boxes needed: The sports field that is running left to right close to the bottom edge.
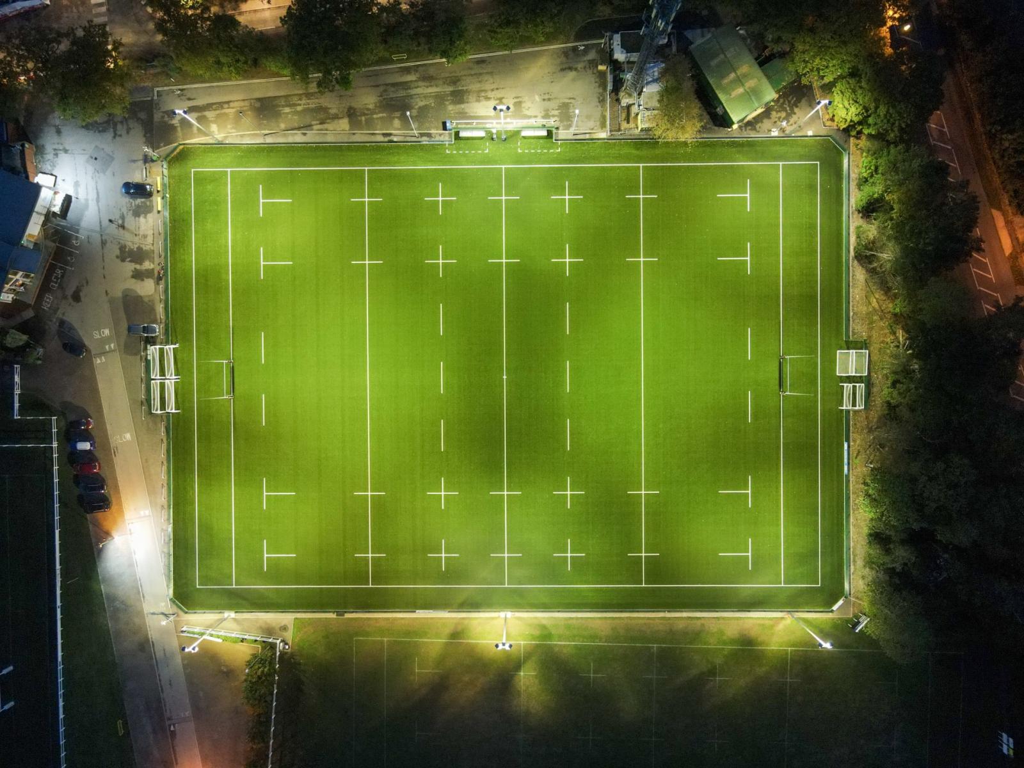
[272,618,1024,768]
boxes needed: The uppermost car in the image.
[120,181,152,196]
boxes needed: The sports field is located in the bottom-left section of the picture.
[0,446,63,768]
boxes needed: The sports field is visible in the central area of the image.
[153,131,864,612]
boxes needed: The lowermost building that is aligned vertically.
[0,169,64,311]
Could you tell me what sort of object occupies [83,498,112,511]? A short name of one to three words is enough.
vehicle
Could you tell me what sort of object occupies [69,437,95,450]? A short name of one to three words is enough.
vehicle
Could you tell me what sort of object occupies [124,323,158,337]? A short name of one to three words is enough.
car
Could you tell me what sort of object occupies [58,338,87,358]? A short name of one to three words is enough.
car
